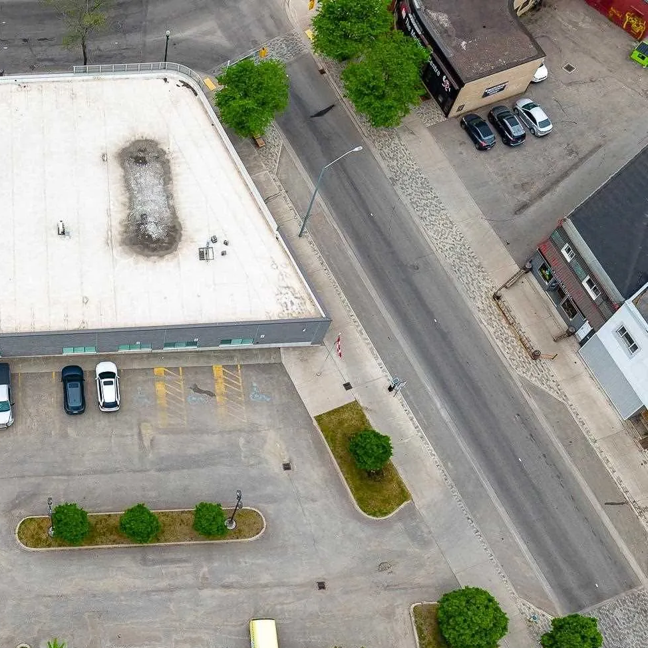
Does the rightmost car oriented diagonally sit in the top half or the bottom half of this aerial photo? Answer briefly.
top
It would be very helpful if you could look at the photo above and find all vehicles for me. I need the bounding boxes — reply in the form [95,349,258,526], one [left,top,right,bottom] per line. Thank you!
[93,362,121,415]
[59,366,87,418]
[249,618,278,648]
[514,99,554,140]
[487,105,527,151]
[530,38,549,84]
[0,364,14,431]
[460,115,497,154]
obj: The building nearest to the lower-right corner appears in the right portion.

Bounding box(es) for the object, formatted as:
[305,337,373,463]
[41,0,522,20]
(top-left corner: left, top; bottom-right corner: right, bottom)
[578,287,648,427]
